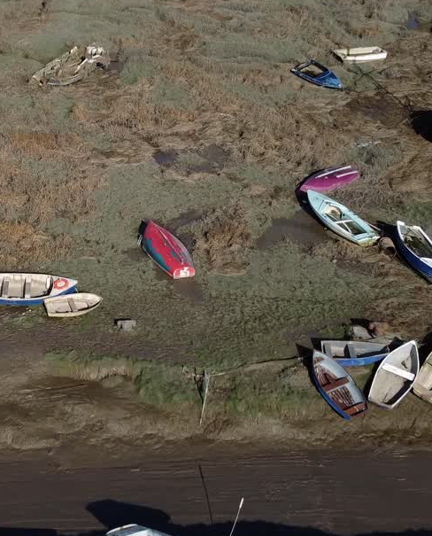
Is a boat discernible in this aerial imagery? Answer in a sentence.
Yes, there is a boat in the image.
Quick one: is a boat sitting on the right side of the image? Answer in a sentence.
Yes, you'll find a boat on the right side of the image.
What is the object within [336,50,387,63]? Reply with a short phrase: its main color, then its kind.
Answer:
white boat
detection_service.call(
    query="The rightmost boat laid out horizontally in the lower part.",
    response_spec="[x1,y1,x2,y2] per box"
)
[320,341,389,362]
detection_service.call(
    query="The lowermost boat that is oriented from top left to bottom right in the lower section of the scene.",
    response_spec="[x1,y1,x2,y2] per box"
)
[312,351,368,416]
